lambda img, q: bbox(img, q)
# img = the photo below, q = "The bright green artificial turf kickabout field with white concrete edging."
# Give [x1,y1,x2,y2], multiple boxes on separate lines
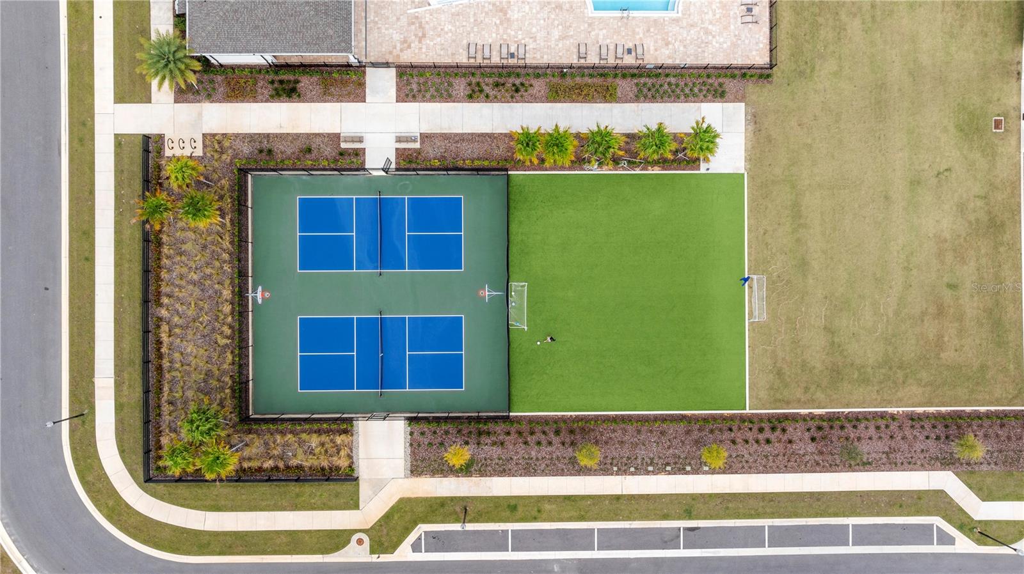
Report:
[511,171,1024,415]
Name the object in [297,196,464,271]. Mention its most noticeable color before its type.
blue sports court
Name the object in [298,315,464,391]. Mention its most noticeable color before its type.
blue sports court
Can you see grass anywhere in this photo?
Yes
